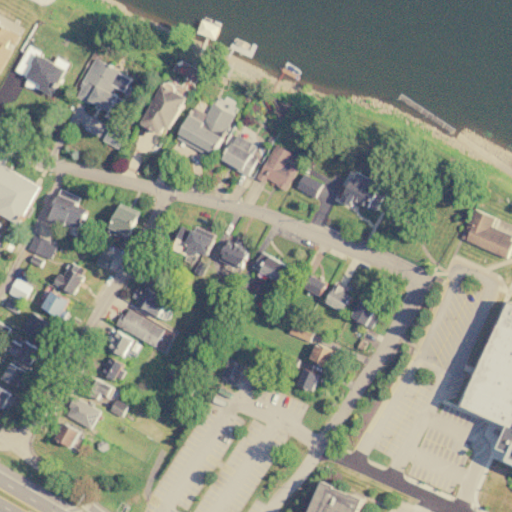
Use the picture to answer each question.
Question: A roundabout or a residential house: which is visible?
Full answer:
The one in the frame is a residential house.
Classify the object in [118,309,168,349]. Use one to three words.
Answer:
building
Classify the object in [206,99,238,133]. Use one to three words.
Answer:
house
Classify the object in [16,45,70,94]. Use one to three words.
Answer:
house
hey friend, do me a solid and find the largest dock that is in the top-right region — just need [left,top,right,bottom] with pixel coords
[398,94,454,133]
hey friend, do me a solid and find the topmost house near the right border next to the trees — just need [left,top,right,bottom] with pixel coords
[466,208,512,259]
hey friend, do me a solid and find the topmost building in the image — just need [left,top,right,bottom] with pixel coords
[198,18,222,42]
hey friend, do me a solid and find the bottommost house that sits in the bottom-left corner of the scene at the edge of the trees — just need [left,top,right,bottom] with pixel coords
[56,424,87,450]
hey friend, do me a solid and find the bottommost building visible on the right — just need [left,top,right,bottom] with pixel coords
[310,482,370,512]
